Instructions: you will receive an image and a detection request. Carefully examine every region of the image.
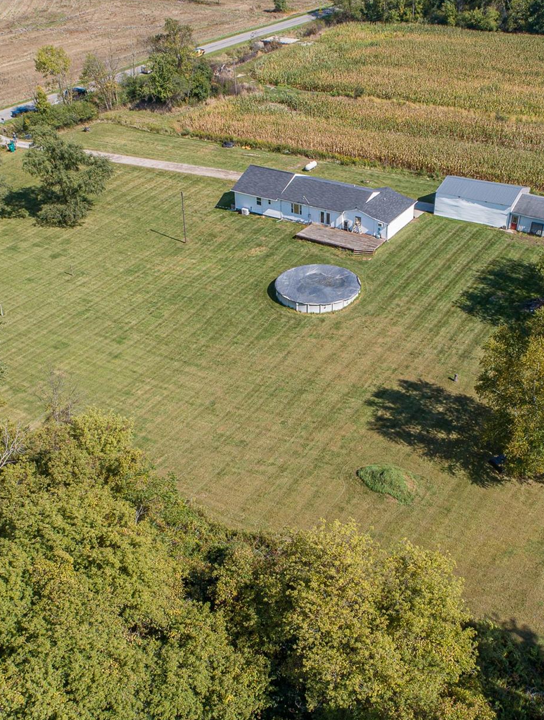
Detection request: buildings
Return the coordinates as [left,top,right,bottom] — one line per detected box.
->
[229,165,419,244]
[433,172,532,229]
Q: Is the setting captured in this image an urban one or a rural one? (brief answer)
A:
rural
